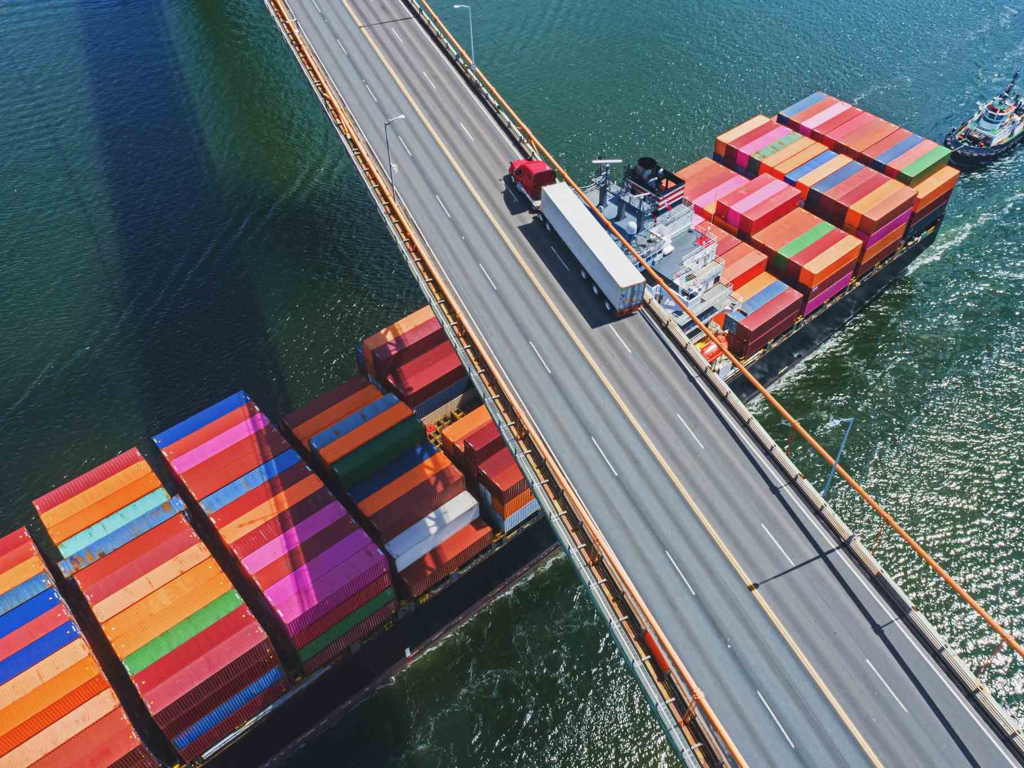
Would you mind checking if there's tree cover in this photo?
No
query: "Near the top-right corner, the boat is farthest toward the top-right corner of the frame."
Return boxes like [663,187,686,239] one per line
[940,61,1024,160]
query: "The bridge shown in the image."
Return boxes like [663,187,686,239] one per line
[257,0,1024,768]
